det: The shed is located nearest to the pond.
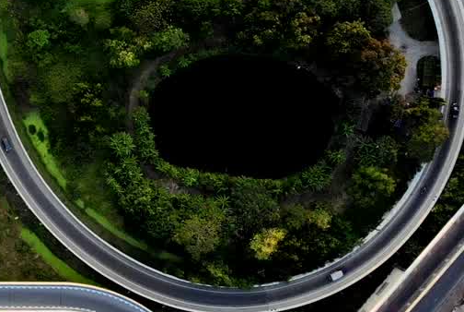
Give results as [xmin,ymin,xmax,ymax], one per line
[412,54,436,90]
